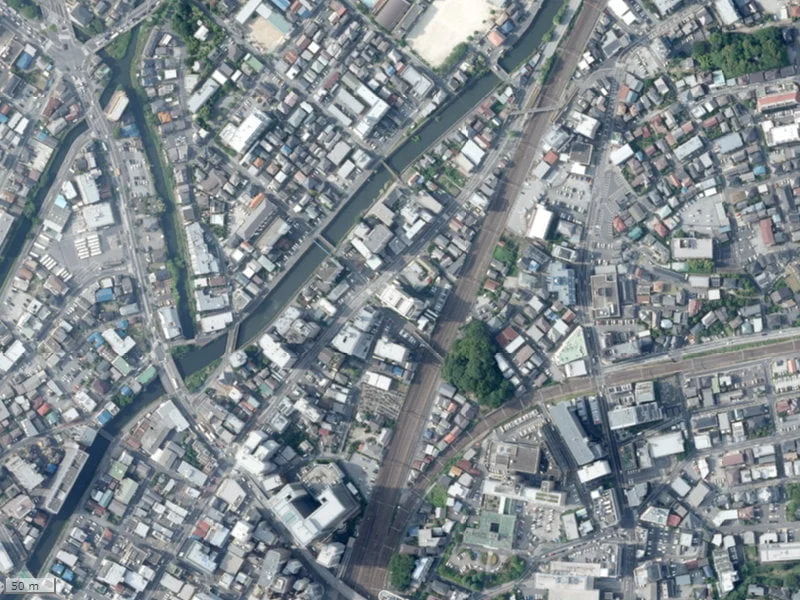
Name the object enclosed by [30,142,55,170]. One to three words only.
building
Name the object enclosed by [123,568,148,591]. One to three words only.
building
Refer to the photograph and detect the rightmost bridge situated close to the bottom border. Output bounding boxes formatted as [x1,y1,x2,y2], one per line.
[317,563,370,600]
